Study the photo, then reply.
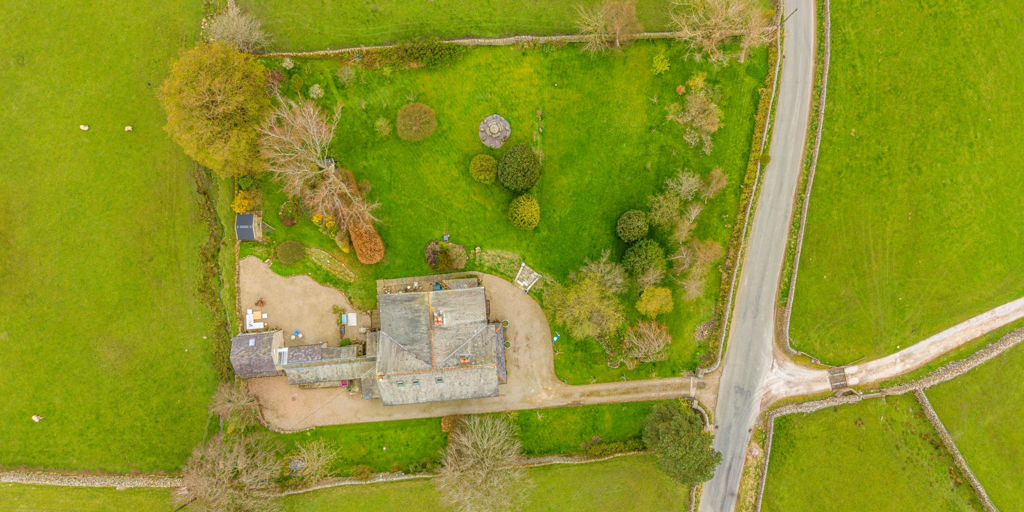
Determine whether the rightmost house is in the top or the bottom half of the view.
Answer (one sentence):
The rightmost house sits in the bottom half of the picture.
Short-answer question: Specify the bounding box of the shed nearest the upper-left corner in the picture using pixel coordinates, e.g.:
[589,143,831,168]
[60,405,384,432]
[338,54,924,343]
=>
[234,214,259,240]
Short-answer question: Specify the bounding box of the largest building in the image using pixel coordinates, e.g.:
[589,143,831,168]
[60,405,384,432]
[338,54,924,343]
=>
[376,278,508,406]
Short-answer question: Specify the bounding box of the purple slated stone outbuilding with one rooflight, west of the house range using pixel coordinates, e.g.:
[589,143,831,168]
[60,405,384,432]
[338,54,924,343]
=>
[230,331,281,376]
